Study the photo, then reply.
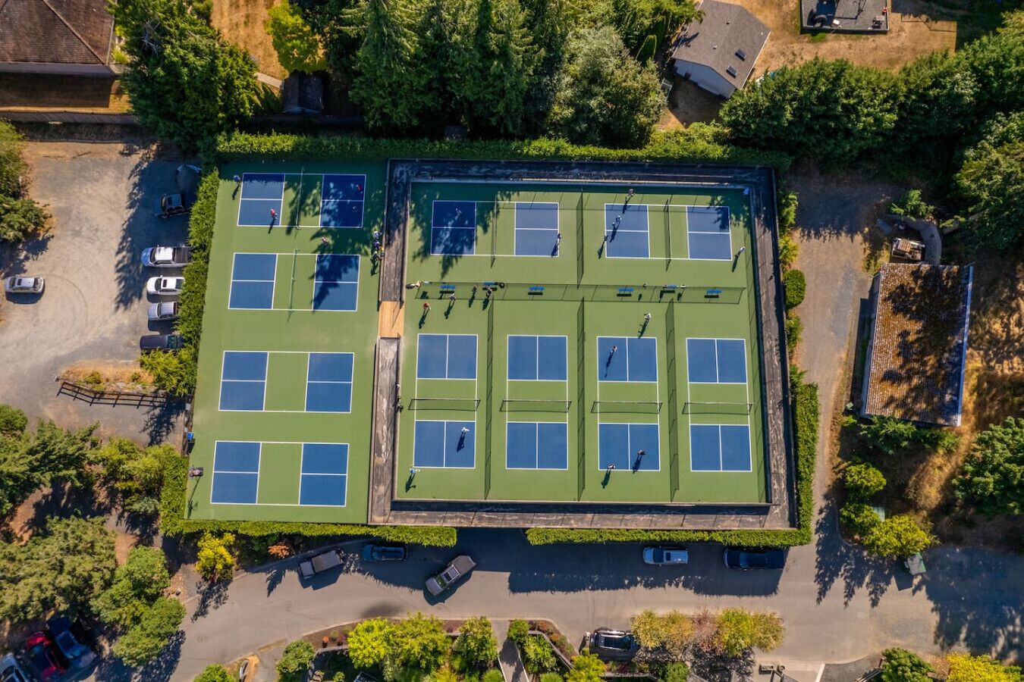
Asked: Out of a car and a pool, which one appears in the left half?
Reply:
car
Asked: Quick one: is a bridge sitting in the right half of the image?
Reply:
No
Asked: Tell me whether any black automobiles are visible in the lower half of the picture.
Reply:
Yes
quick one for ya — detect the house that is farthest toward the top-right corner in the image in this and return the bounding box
[671,0,772,100]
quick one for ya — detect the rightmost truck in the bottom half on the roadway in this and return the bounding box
[722,548,787,572]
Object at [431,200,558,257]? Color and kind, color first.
blue sports court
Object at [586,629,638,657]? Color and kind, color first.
black car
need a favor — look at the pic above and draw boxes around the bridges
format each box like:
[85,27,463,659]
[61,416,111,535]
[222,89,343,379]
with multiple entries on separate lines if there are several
[378,298,404,337]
